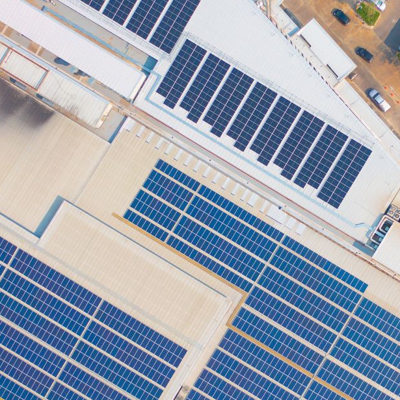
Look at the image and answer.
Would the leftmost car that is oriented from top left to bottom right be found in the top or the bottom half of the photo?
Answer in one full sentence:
Seen from above, the leftmost car that is oriented from top left to bottom right lies in the top half of the view.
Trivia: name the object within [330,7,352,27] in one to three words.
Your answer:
car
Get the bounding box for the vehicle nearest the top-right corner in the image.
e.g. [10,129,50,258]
[363,0,389,14]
